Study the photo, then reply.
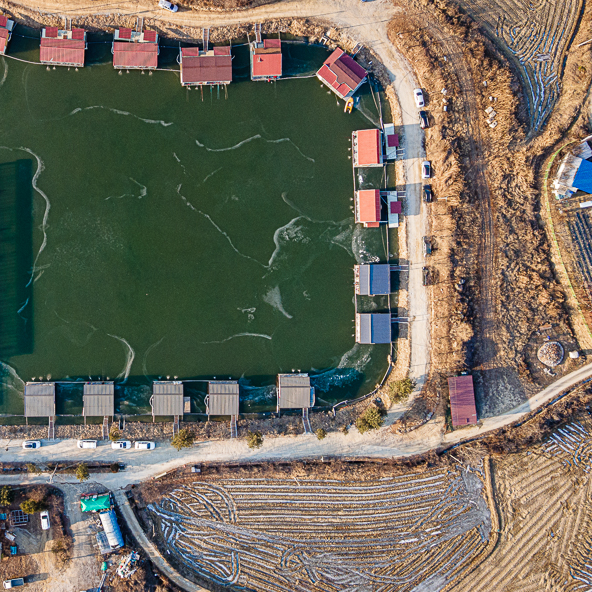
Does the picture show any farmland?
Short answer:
Yes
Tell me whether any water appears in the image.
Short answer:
Yes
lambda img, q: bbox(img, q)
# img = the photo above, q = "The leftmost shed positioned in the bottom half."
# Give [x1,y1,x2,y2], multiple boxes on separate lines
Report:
[24,380,56,424]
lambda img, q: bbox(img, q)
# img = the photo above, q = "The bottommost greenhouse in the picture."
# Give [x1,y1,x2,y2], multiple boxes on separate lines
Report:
[99,508,124,549]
